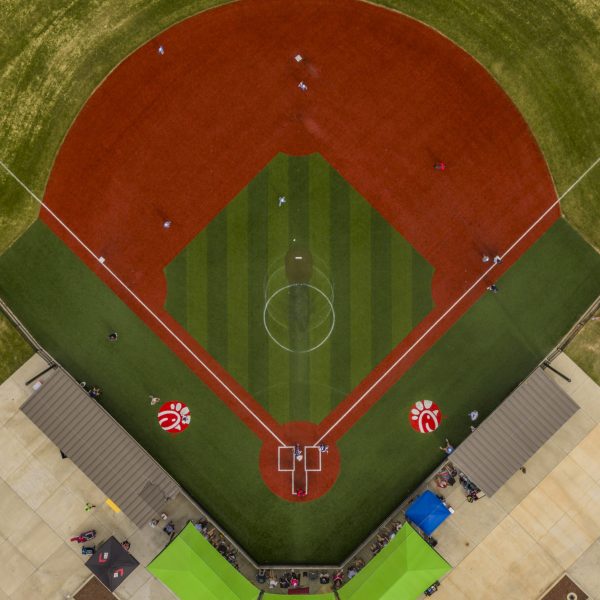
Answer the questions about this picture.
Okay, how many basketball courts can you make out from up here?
0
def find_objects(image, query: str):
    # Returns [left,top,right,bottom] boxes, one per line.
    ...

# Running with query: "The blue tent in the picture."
[402,483,452,535]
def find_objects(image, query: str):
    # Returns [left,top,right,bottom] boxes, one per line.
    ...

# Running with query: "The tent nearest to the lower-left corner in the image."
[85,524,147,592]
